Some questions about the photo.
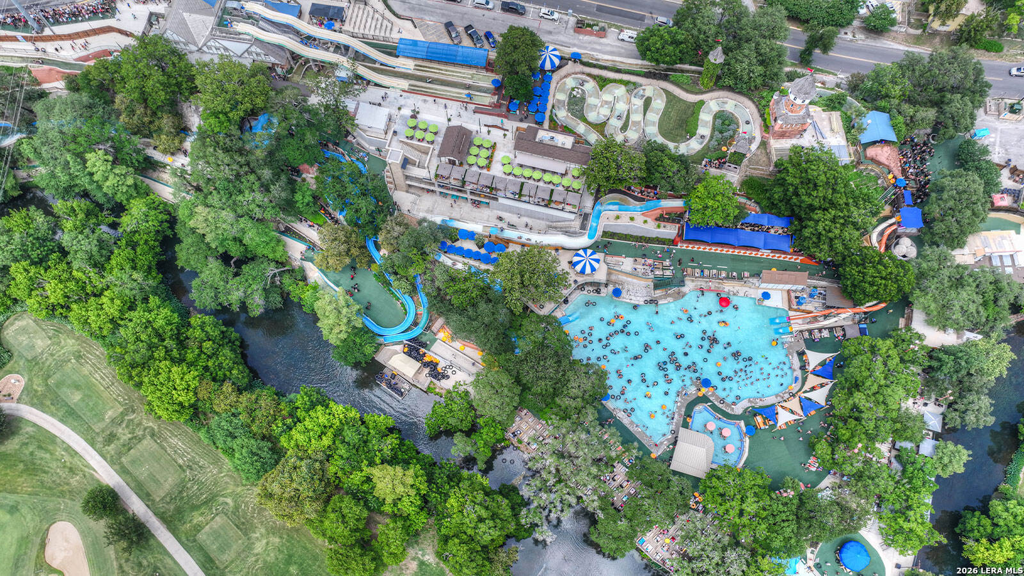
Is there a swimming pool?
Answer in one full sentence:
Yes, the photo shows a swimming pool.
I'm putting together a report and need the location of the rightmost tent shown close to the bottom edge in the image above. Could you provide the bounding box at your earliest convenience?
[836,538,872,574]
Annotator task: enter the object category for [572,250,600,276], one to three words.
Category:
umbrella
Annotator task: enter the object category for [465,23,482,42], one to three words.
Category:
vehicle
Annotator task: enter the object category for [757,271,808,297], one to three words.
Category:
building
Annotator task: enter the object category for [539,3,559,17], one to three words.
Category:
car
